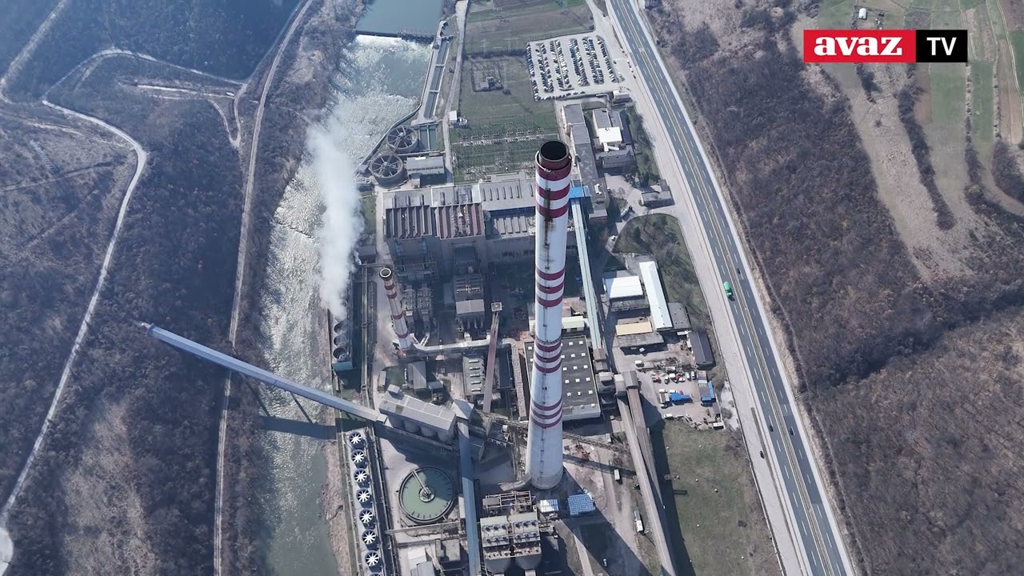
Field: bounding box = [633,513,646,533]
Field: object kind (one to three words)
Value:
vehicle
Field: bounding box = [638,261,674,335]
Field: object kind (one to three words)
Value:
building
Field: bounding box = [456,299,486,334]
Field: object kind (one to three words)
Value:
house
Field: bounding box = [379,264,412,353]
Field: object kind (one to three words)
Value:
chimney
